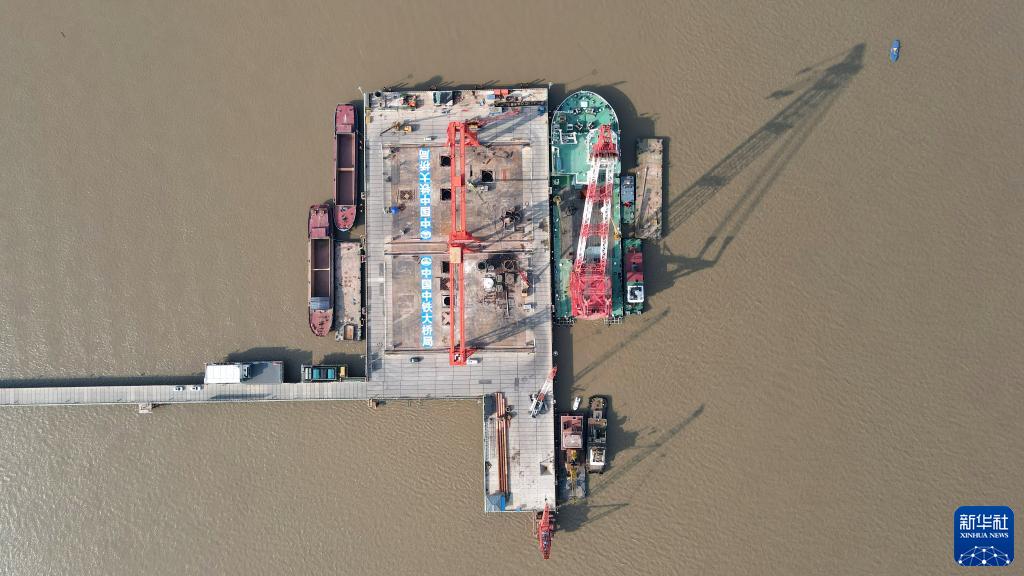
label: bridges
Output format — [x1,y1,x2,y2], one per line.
[0,382,368,407]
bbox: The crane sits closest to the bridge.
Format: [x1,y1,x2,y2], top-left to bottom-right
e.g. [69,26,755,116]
[443,244,482,365]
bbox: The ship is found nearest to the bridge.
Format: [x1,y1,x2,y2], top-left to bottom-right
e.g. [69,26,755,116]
[307,204,335,337]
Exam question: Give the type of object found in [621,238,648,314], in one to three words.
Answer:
boat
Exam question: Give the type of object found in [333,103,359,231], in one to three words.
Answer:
ship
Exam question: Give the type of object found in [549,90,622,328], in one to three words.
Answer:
ship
